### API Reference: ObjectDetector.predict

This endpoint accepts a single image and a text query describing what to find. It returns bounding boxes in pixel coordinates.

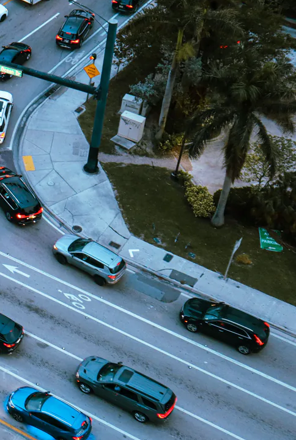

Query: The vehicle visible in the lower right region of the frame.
[180,297,279,358]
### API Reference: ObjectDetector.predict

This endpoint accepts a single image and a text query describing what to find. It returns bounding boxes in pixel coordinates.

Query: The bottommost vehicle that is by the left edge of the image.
[7,386,98,440]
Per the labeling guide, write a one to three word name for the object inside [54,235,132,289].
car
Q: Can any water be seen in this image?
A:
No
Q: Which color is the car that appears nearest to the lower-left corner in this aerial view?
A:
blue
